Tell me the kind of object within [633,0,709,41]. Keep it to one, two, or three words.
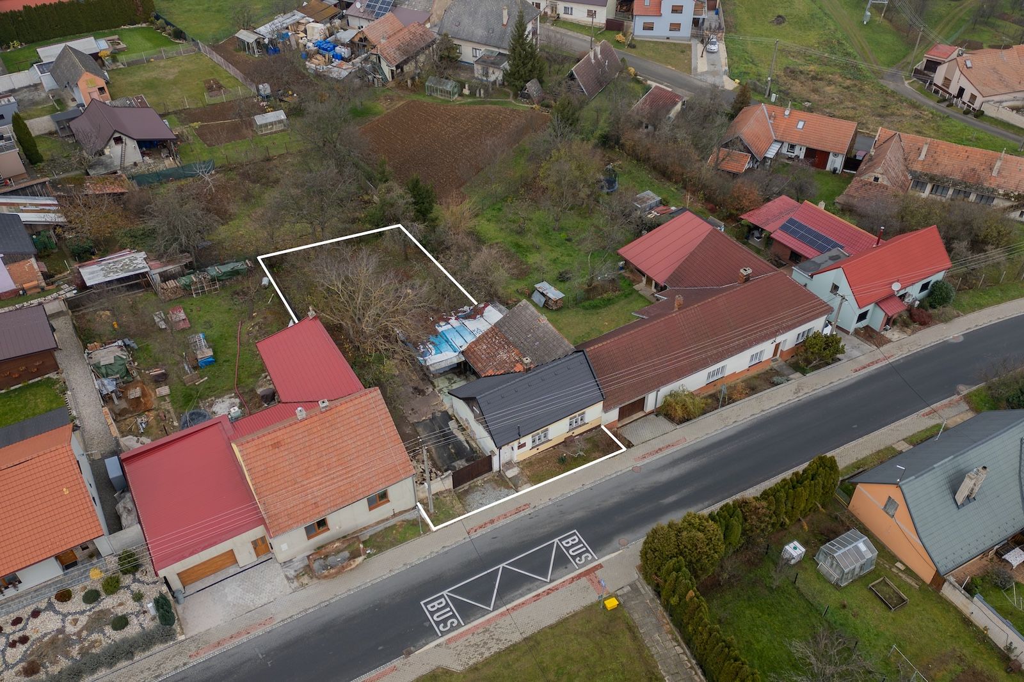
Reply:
house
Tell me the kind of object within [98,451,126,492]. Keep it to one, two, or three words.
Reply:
shed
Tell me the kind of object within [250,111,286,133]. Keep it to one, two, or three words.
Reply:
greenhouse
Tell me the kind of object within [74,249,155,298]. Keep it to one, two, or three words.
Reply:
shed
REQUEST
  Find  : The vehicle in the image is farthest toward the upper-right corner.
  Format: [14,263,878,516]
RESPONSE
[856,144,871,159]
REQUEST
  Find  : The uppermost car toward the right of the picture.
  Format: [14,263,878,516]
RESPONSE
[707,36,720,49]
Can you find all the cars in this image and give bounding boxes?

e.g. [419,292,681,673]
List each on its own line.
[856,144,871,159]
[707,36,720,49]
